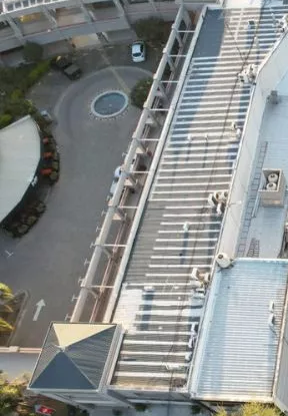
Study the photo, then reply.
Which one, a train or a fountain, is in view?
fountain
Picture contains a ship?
No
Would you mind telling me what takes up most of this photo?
buildings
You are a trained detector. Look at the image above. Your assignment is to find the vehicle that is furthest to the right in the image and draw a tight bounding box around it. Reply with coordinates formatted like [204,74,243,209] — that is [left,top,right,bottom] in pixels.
[130,39,147,63]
